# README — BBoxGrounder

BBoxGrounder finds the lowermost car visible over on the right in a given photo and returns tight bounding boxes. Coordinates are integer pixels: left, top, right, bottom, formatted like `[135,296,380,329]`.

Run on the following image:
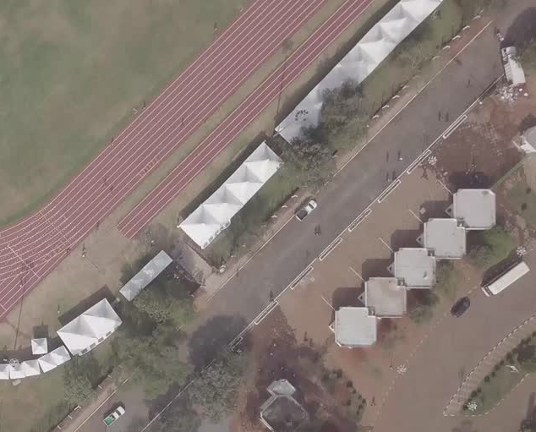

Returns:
[451,297,473,316]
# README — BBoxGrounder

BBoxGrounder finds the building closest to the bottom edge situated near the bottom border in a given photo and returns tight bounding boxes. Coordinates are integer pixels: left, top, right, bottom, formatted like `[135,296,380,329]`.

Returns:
[259,379,309,432]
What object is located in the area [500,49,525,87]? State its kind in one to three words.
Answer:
truck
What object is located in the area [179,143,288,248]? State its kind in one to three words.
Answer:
tent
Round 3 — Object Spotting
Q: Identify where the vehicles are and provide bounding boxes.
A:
[103,405,126,428]
[483,262,532,298]
[451,297,473,316]
[500,49,525,87]
[295,199,318,222]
